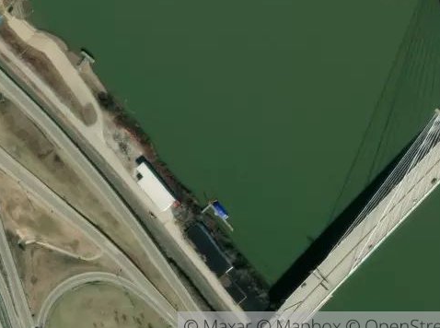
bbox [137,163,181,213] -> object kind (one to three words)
building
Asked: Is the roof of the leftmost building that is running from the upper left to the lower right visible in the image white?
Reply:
Yes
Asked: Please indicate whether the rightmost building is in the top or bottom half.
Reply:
bottom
